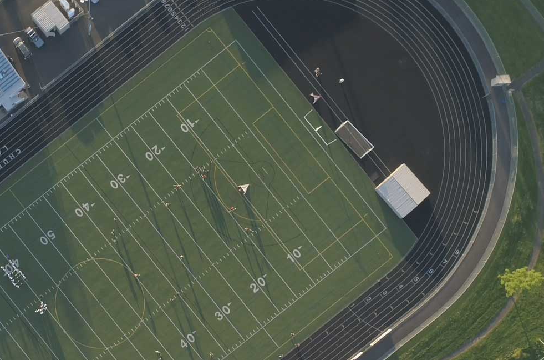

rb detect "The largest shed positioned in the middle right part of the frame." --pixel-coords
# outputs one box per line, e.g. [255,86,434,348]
[372,163,431,218]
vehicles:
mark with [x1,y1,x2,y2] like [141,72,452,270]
[14,36,32,60]
[24,24,45,51]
